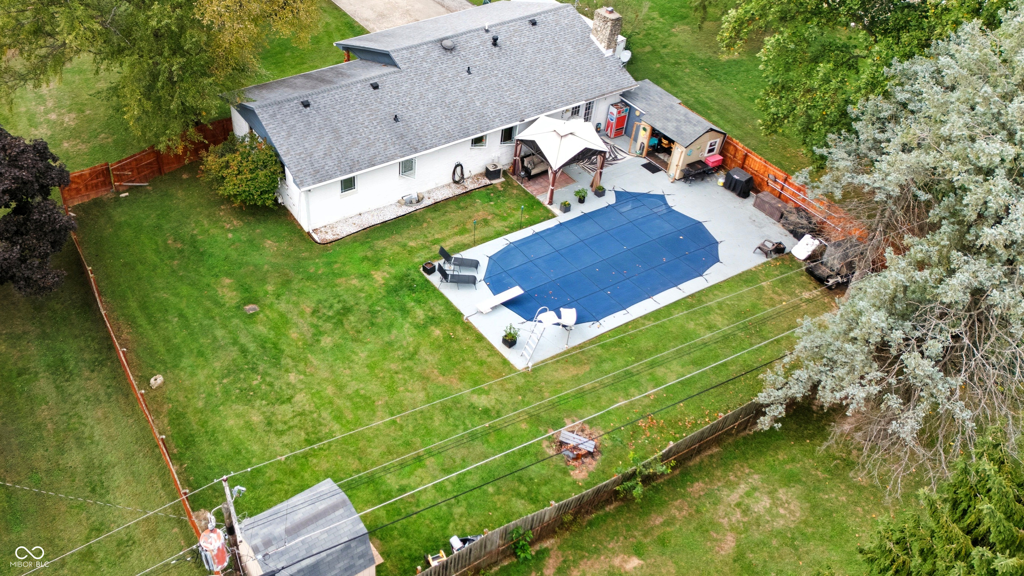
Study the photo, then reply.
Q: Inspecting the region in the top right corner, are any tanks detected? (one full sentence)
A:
No, I see no tank in the top right corner.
